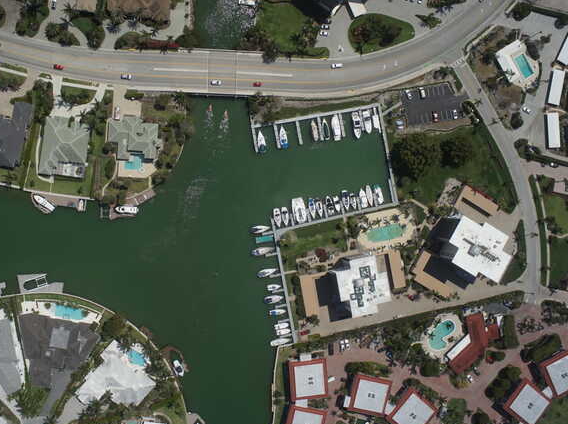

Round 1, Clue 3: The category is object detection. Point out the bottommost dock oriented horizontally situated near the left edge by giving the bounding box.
[17,273,63,293]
